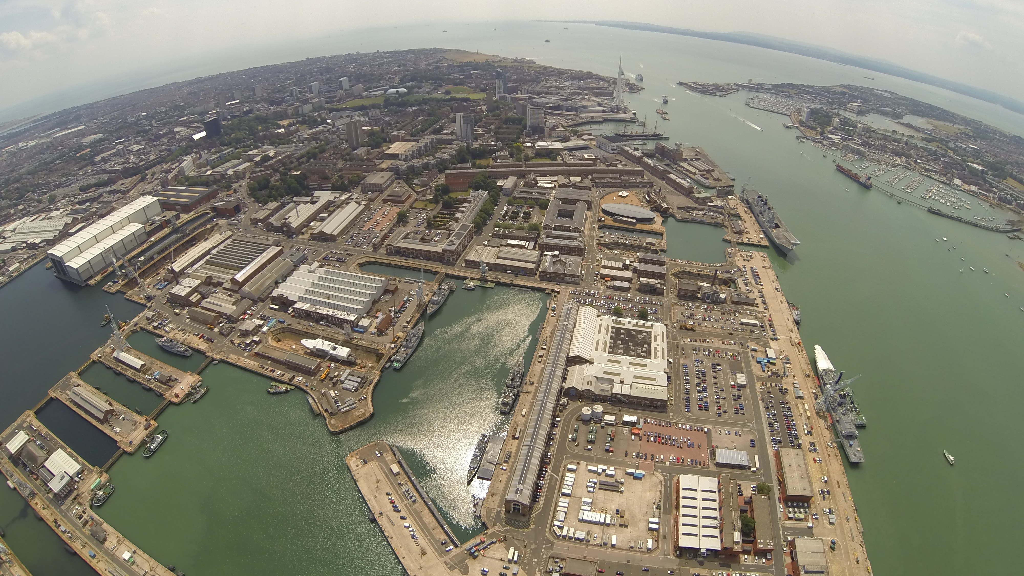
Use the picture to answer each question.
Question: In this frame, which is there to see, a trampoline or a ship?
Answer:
ship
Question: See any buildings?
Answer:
Yes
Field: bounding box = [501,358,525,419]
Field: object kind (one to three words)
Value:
ship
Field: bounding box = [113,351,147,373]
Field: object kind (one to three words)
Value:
shed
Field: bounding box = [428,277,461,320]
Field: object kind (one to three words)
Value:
ship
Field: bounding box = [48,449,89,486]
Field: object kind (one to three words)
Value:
building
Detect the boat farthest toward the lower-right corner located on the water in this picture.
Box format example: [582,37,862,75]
[943,449,955,465]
